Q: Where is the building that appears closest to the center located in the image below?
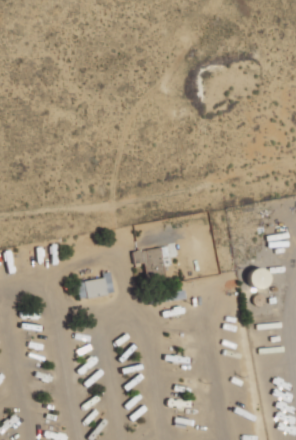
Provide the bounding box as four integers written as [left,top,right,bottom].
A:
[134,244,178,281]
